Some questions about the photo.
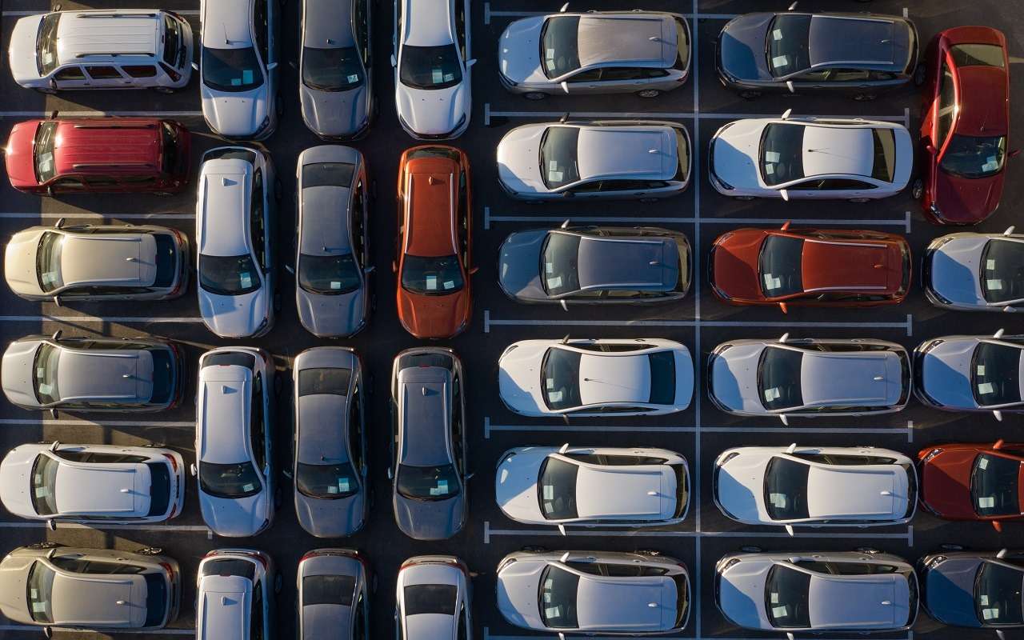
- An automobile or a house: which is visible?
automobile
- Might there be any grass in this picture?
No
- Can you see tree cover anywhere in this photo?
No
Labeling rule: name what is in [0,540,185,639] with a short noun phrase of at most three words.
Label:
car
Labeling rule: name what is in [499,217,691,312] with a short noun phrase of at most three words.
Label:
car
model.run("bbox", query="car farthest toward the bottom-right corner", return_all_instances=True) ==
[915,541,1024,640]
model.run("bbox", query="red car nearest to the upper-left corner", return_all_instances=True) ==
[2,106,196,200]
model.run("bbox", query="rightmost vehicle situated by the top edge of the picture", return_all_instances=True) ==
[907,25,1020,226]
